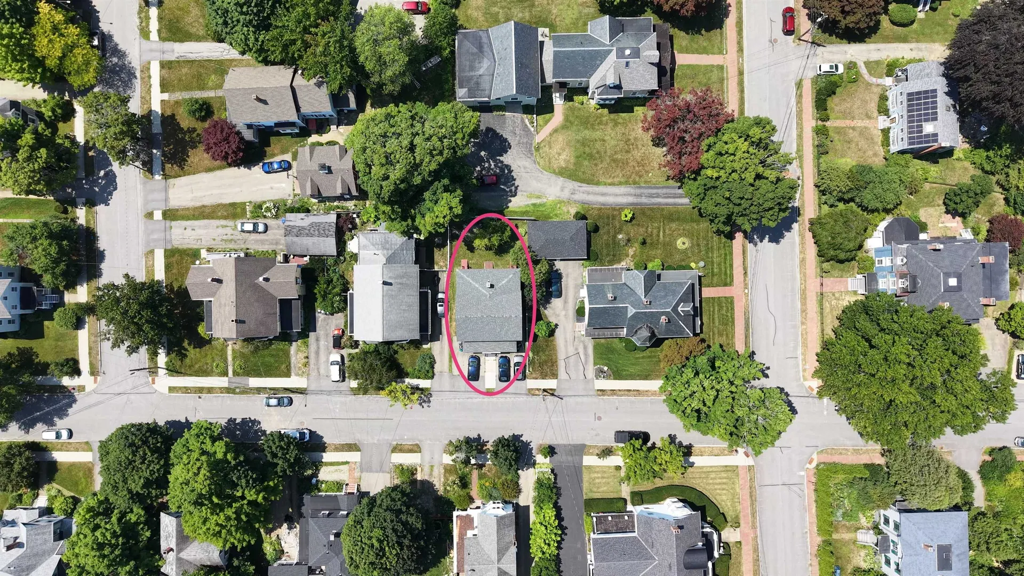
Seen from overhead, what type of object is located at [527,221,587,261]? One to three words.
building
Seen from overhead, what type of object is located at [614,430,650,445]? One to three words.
vehicle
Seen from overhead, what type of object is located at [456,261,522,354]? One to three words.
house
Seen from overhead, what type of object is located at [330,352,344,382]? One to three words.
car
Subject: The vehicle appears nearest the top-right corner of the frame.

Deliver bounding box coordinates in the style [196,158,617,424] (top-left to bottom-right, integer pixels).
[816,62,843,76]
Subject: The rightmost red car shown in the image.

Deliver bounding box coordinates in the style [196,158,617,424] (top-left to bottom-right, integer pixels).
[781,8,796,37]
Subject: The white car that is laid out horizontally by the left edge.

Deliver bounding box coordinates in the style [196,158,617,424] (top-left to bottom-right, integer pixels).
[41,428,73,441]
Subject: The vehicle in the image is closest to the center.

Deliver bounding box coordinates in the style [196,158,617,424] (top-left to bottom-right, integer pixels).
[549,270,562,298]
